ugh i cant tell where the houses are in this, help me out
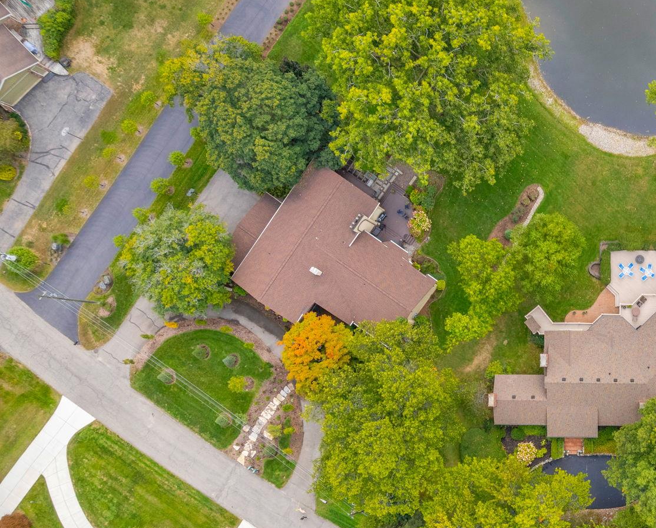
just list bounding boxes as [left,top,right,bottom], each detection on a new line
[488,312,656,438]
[231,158,438,343]
[0,8,54,107]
